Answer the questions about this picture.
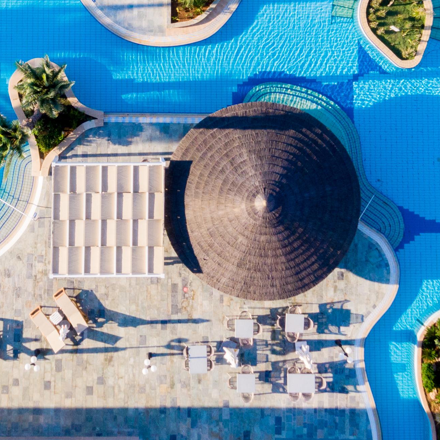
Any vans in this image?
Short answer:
No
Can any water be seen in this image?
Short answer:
Yes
